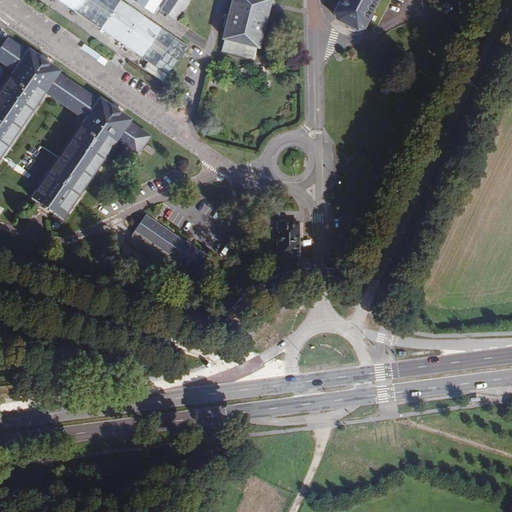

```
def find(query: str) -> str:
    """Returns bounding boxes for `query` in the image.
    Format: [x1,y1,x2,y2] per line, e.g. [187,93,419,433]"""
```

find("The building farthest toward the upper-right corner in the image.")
[335,0,382,30]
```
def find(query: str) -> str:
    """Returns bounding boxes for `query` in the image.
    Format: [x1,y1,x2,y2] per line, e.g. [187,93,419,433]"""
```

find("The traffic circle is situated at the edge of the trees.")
[259,126,325,214]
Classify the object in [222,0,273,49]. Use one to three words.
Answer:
house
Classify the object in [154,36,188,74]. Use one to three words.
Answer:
greenhouse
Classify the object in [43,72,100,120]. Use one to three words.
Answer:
building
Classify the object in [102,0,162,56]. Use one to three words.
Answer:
building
